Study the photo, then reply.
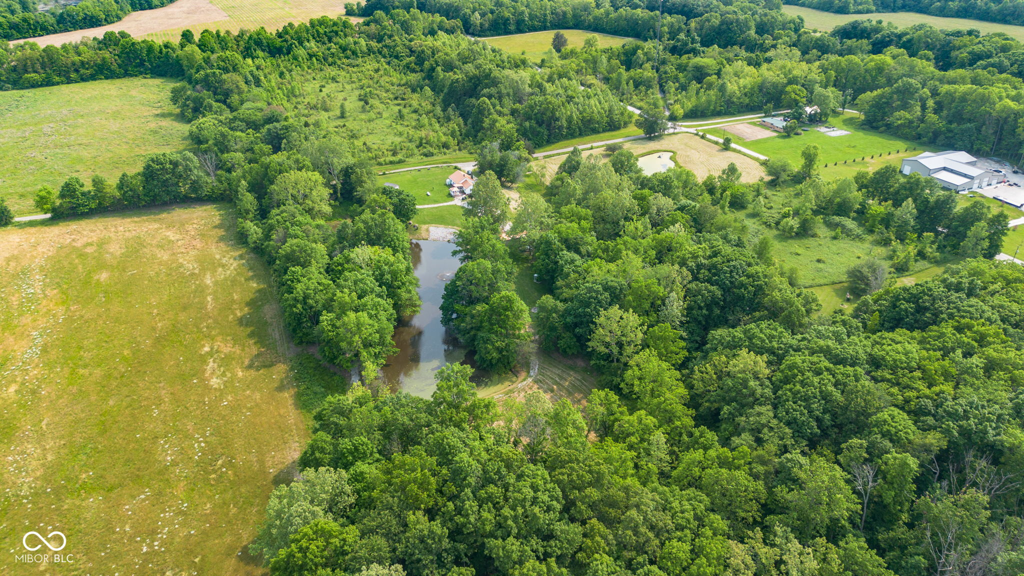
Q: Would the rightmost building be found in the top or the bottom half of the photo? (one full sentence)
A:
Seen from above, the rightmost building lies in the top half of the view.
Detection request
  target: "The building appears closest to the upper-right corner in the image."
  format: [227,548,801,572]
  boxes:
[900,149,1006,193]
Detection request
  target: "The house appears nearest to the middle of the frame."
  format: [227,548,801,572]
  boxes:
[447,169,477,200]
